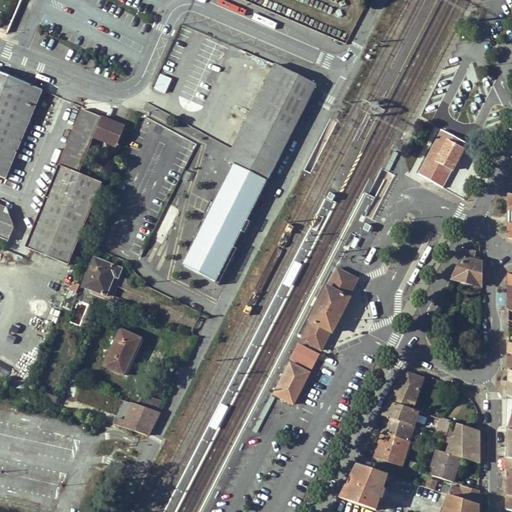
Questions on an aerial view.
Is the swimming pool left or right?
left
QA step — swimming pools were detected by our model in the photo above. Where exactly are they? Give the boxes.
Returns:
[69,300,90,326]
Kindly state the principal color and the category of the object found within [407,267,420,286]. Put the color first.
white vehicle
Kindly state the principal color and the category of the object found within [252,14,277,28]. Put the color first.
white vehicle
